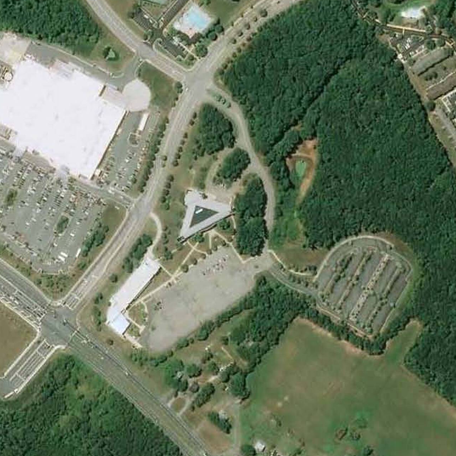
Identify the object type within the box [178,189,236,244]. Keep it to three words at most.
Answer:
building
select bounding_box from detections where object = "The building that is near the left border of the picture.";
[0,59,127,181]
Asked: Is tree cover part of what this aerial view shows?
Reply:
Yes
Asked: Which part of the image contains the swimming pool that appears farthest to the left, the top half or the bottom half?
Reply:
top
